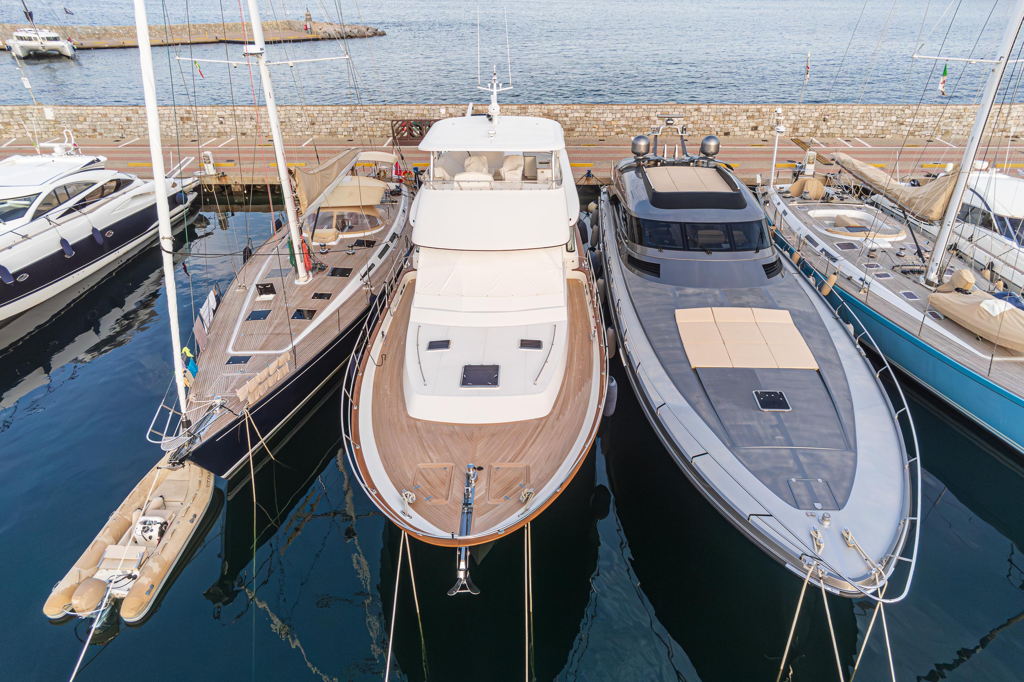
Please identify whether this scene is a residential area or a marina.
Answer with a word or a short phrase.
marina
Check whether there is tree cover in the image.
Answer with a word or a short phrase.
No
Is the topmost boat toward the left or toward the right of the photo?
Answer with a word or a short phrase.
left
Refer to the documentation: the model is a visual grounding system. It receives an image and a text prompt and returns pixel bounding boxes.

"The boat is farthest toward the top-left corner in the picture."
[10,0,80,56]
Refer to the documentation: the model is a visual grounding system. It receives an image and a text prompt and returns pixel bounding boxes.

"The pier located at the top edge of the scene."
[0,29,321,54]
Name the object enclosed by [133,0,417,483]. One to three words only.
boat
